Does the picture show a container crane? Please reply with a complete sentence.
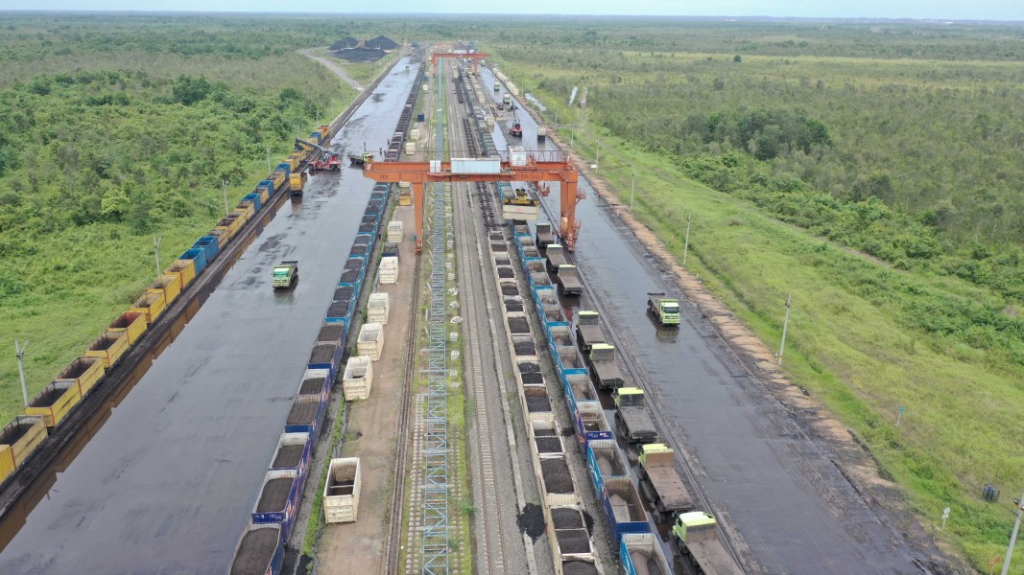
Yes, there is a container crane in the image.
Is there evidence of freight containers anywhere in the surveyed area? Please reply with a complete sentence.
Yes, a freight container appears in the view.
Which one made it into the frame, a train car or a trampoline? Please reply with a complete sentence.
This aerial view contains a train car.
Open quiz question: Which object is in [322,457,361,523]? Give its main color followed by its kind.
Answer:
white shipping container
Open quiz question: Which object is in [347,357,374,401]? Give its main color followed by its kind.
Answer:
white shipping container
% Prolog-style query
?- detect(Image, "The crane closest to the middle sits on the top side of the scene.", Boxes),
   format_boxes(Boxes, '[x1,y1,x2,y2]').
[362,139,589,250]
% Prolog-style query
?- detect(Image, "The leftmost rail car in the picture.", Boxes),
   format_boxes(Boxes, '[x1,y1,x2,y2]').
[0,437,48,491]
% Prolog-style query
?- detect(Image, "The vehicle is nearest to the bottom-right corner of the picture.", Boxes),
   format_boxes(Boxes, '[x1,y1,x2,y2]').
[669,511,730,575]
